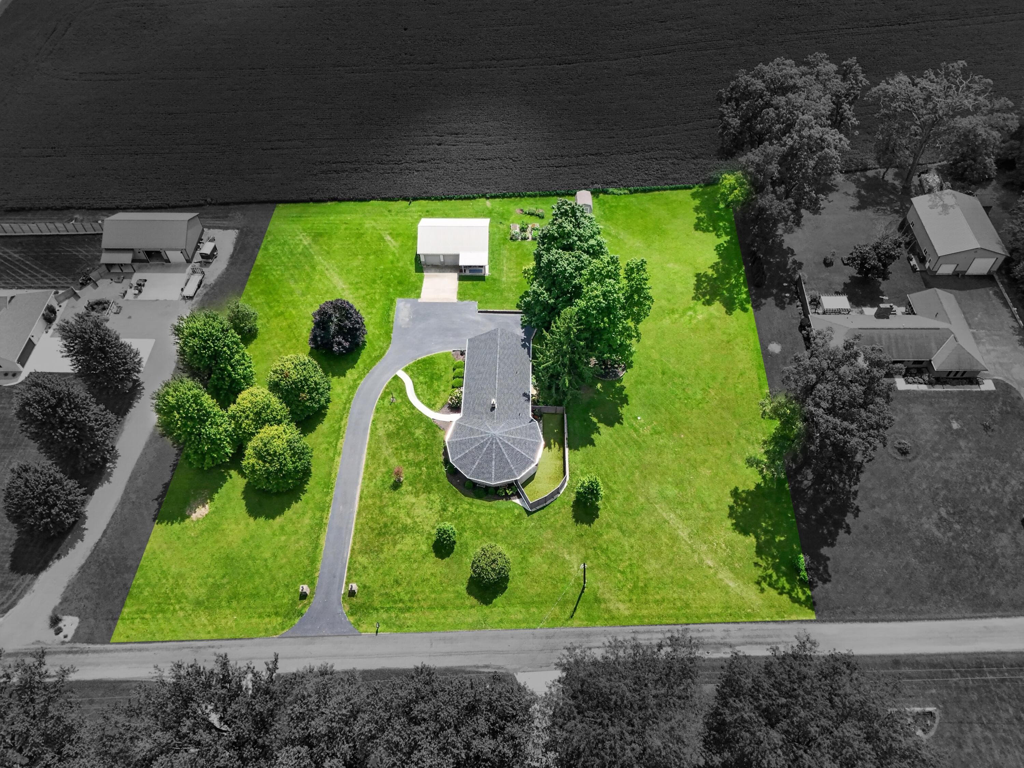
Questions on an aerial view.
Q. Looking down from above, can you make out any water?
No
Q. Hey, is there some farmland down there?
Yes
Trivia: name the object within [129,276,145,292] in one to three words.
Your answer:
work vehicle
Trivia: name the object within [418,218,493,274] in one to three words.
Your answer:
barn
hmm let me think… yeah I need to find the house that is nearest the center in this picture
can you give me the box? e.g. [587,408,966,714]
[445,328,545,487]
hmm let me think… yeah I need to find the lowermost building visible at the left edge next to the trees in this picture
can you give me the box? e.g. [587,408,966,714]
[0,290,58,371]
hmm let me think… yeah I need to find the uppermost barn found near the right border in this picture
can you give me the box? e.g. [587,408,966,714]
[902,188,1009,275]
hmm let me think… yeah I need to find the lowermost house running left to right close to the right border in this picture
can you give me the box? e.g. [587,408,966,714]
[808,288,988,378]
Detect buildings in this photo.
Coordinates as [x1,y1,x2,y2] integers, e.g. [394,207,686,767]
[418,218,493,274]
[575,190,592,216]
[100,213,205,272]
[902,188,1009,275]
[808,288,988,378]
[0,290,58,371]
[445,328,545,487]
